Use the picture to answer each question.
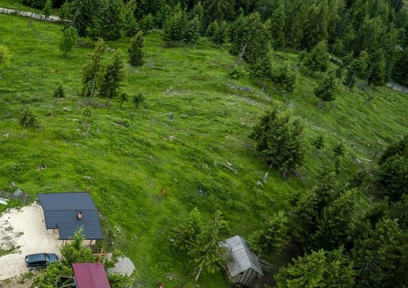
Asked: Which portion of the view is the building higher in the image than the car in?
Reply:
bottom left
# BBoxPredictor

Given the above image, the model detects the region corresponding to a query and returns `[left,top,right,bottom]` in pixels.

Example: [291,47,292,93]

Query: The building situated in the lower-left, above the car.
[34,193,103,252]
